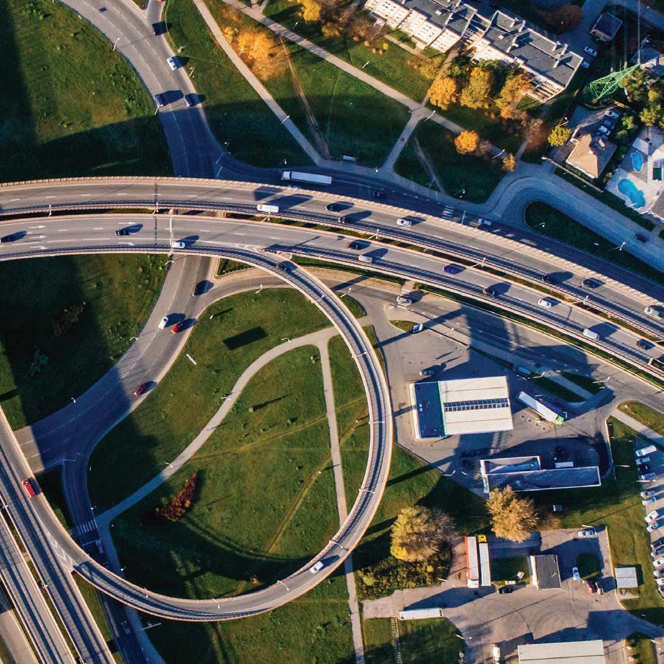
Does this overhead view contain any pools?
Yes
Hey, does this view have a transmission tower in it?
Yes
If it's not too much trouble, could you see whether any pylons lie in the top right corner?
Yes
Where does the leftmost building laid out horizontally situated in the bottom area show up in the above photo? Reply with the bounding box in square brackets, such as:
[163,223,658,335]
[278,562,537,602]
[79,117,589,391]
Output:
[475,456,542,474]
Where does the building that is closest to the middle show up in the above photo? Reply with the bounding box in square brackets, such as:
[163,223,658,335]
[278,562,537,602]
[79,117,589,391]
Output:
[409,381,446,438]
